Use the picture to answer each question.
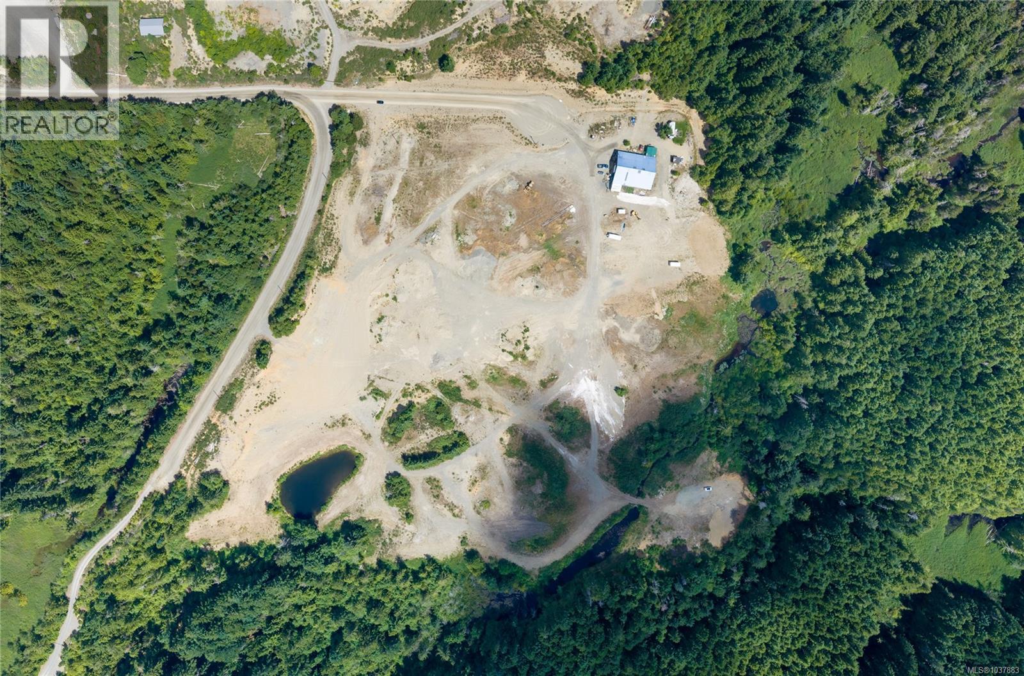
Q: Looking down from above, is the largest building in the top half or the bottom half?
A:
top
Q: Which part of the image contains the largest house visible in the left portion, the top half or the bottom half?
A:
top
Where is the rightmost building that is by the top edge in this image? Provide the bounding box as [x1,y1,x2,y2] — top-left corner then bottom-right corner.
[137,17,164,38]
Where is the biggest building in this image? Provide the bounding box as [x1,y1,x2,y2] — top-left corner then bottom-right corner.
[610,150,656,193]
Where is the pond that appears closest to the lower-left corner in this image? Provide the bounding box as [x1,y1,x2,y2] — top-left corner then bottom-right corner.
[280,449,358,520]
